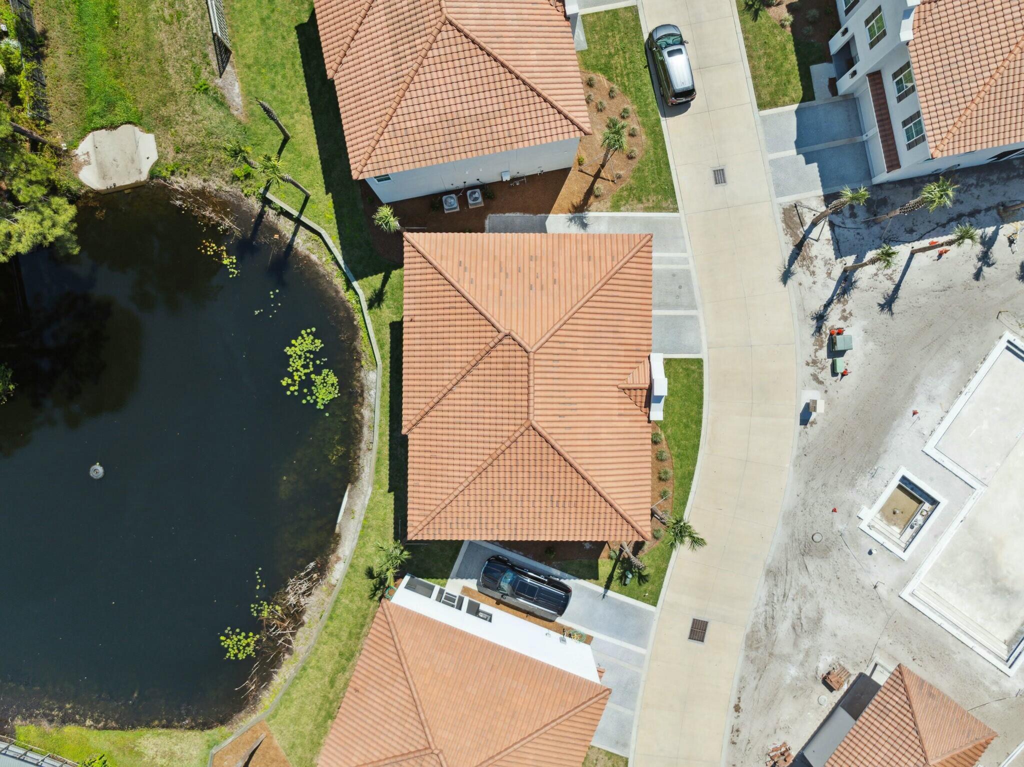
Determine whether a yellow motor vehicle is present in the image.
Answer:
No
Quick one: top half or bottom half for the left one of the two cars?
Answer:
bottom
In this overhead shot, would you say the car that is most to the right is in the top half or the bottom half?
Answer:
top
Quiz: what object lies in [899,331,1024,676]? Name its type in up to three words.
swimming pool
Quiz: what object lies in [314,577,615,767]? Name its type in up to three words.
house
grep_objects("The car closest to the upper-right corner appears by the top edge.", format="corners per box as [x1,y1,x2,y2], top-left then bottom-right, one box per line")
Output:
[649,21,701,107]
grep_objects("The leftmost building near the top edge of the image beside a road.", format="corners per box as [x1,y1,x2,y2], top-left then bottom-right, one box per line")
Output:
[310,0,594,203]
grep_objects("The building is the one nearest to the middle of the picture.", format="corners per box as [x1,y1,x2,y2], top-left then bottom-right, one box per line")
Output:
[400,230,673,543]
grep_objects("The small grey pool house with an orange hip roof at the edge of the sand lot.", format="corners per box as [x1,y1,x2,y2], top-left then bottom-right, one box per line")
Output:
[797,655,1000,767]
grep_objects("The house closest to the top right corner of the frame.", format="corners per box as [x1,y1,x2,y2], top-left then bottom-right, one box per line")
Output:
[831,0,1024,184]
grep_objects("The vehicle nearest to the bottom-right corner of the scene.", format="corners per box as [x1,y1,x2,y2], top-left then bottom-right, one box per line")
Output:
[475,553,572,621]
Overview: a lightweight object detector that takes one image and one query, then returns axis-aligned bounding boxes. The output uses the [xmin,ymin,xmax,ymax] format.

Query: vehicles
[475,553,572,621]
[649,21,701,107]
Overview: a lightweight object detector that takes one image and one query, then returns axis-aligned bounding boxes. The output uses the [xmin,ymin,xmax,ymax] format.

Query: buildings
[310,0,594,203]
[314,577,615,767]
[400,230,673,543]
[797,655,1000,767]
[831,0,1024,184]
[0,735,81,767]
